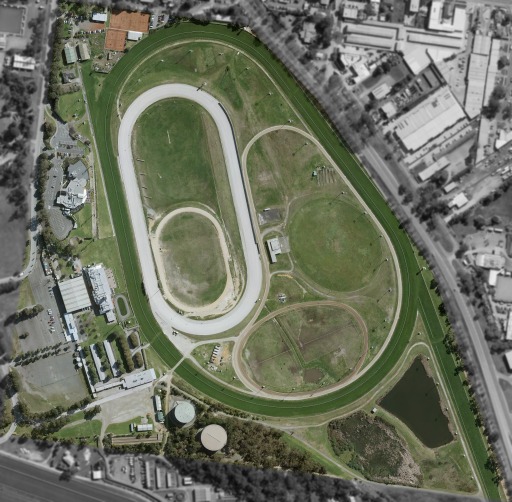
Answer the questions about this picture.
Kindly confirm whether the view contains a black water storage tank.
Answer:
No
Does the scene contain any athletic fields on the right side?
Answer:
Yes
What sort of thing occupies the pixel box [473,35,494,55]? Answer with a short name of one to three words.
building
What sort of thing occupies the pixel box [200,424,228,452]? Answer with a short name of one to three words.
water tank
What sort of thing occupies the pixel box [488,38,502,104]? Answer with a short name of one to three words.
shed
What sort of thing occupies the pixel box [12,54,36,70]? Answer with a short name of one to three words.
building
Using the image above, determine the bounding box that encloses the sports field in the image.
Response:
[288,196,384,291]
